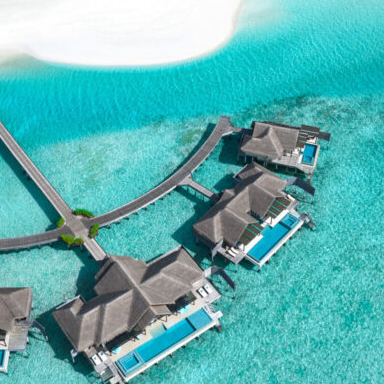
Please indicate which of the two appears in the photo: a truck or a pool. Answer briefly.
pool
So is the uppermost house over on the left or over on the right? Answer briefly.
right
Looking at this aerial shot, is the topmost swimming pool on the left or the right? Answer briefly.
right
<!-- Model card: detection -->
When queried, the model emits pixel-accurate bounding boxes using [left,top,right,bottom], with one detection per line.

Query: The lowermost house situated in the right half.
[191,164,316,271]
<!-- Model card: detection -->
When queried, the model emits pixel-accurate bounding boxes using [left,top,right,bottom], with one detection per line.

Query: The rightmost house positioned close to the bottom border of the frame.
[54,244,236,384]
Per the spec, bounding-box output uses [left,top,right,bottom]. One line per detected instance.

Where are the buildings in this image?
[191,164,316,271]
[241,120,330,183]
[54,244,236,384]
[0,286,51,358]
